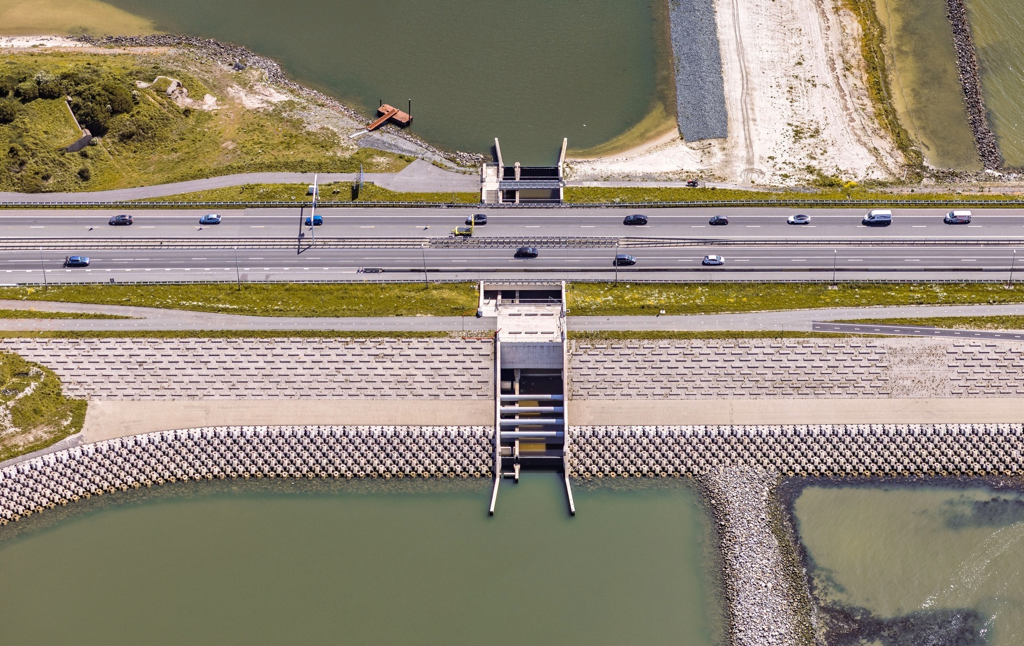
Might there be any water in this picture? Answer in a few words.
Yes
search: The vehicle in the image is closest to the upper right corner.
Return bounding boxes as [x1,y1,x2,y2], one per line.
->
[947,211,971,223]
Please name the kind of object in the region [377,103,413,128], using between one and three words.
pier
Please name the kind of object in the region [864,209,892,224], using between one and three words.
vehicle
